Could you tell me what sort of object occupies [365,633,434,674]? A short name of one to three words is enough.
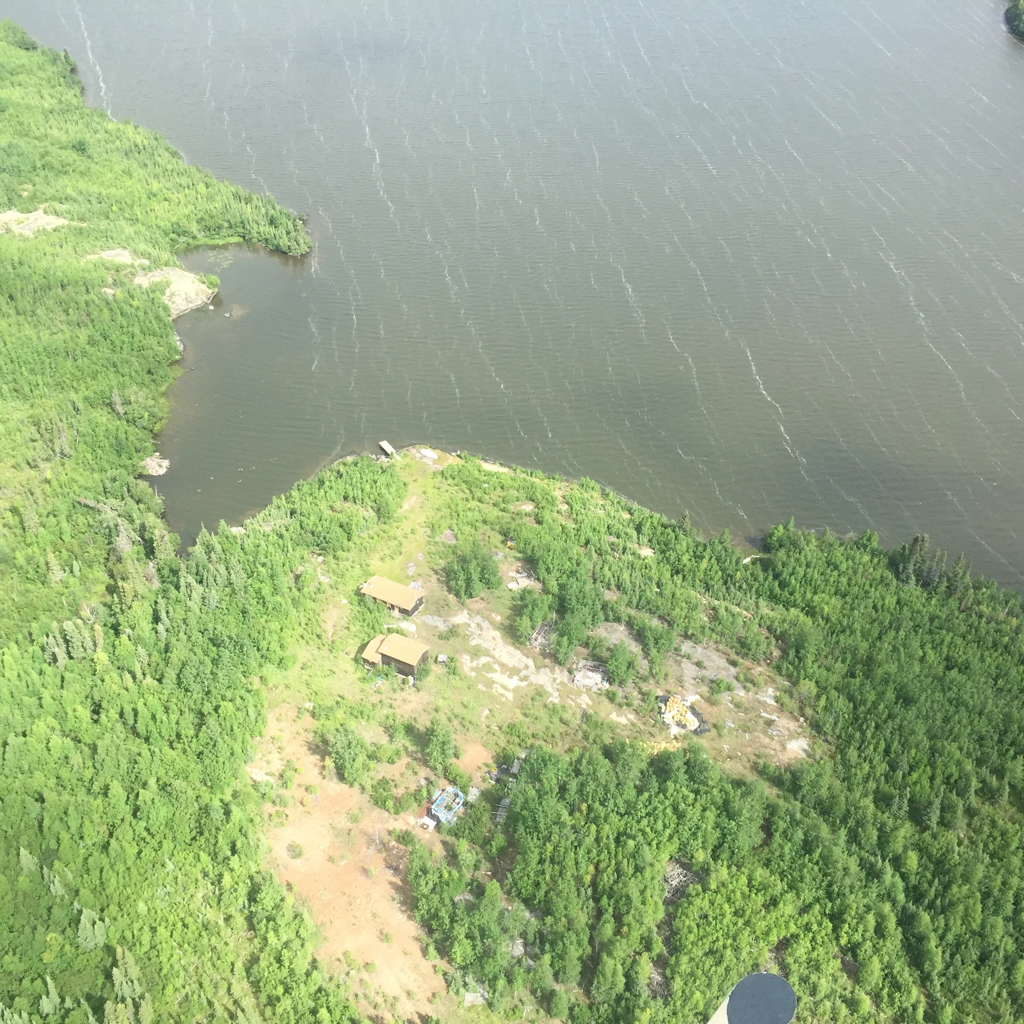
building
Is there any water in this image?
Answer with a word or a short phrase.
Yes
